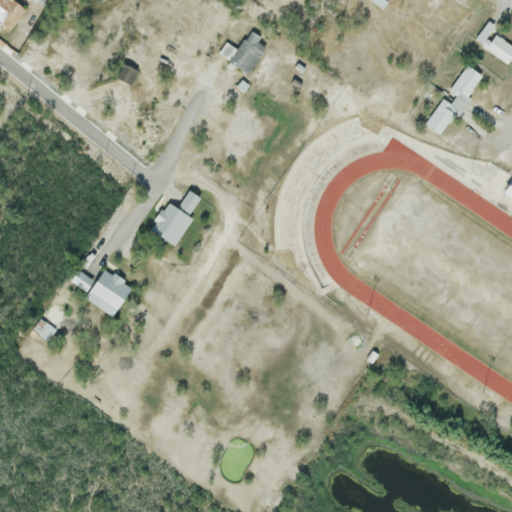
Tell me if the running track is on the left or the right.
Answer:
right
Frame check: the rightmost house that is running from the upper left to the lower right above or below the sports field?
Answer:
above it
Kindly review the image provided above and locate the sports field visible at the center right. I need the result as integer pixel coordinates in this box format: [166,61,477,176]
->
[332,170,512,380]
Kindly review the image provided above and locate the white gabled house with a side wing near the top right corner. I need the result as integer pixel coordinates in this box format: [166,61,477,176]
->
[476,22,512,66]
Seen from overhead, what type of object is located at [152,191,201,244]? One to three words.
house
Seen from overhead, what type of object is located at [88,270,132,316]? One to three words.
house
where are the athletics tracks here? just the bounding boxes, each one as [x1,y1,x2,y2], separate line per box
[315,137,512,401]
